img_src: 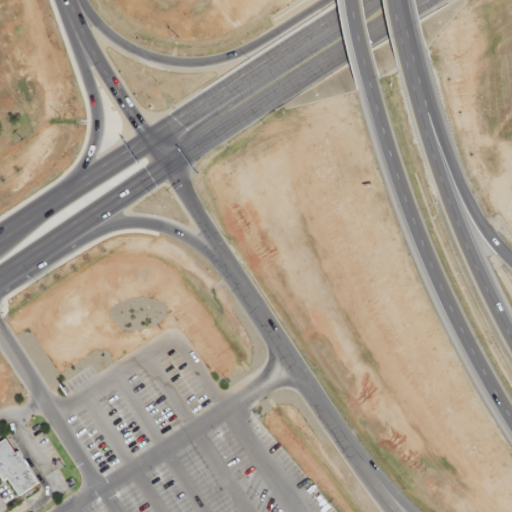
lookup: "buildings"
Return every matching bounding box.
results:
[0,438,40,496]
